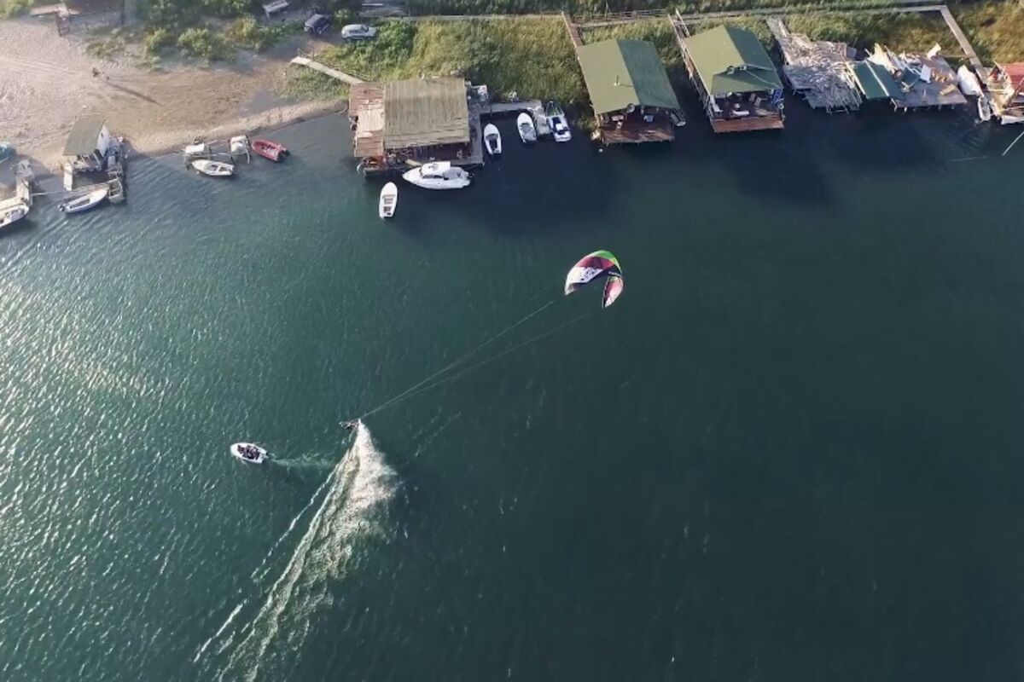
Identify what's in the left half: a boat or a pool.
boat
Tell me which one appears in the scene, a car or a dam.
car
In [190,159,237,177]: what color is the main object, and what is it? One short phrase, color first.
white boat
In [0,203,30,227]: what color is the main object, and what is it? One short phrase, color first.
white boat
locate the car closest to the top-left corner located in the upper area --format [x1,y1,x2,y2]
[303,5,333,33]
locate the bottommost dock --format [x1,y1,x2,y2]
[13,176,32,205]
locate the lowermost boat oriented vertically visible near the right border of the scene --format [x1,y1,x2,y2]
[977,94,990,124]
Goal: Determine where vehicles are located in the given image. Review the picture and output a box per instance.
[303,5,333,33]
[340,20,377,40]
